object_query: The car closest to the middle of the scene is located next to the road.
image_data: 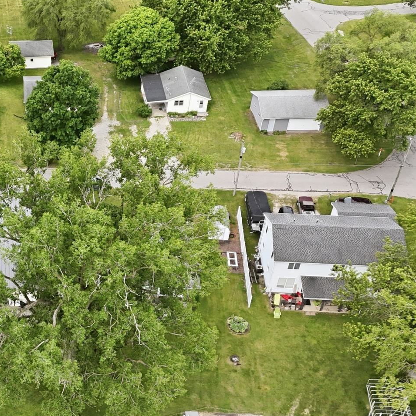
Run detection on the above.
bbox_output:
[277,197,296,212]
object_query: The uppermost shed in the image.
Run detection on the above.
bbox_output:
[7,36,53,68]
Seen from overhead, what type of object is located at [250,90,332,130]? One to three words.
building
